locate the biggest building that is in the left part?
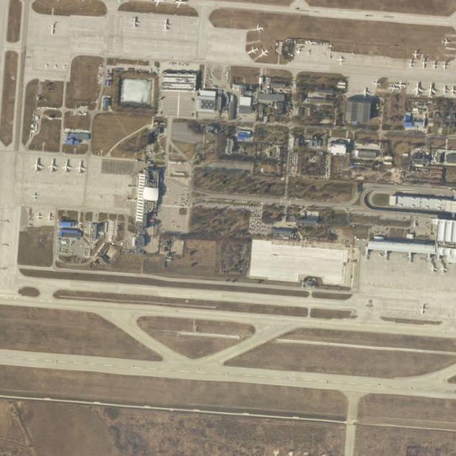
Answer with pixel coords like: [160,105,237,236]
[131,168,158,222]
